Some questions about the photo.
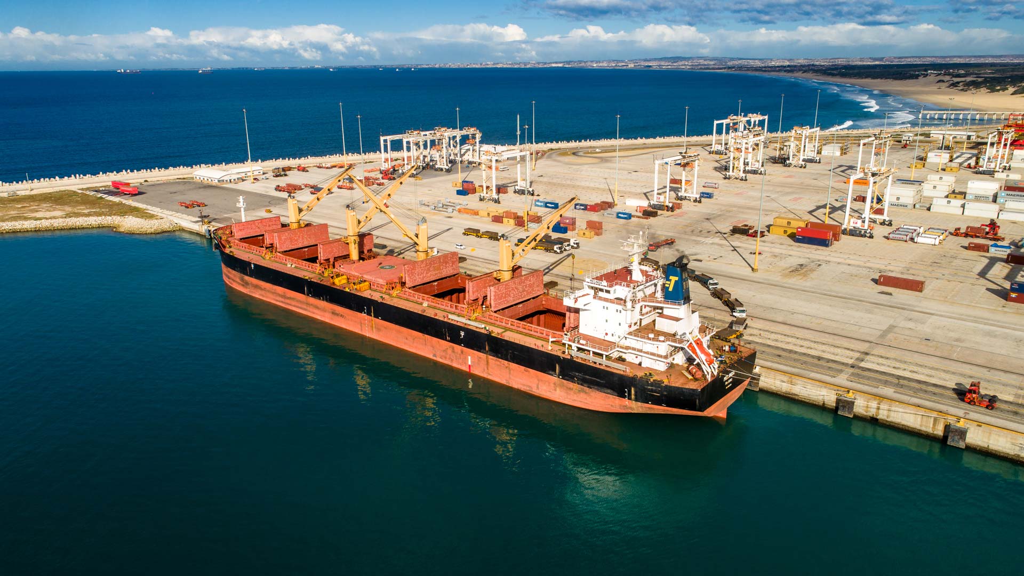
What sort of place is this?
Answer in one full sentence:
The picture captures a port.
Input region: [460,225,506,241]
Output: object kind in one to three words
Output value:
vehicle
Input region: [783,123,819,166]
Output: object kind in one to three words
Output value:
container crane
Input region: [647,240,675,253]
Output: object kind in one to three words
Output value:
vehicle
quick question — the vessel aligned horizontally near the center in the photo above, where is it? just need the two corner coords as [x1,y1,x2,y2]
[210,163,760,421]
